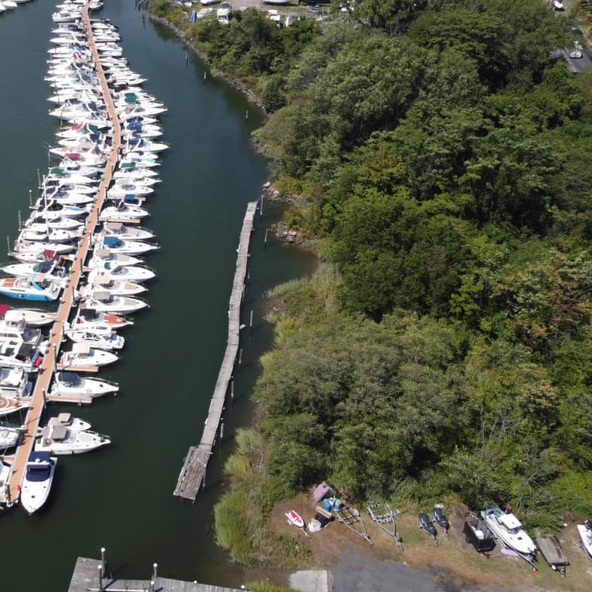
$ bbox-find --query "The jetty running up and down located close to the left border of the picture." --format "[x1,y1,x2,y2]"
[0,0,144,504]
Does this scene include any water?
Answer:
Yes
